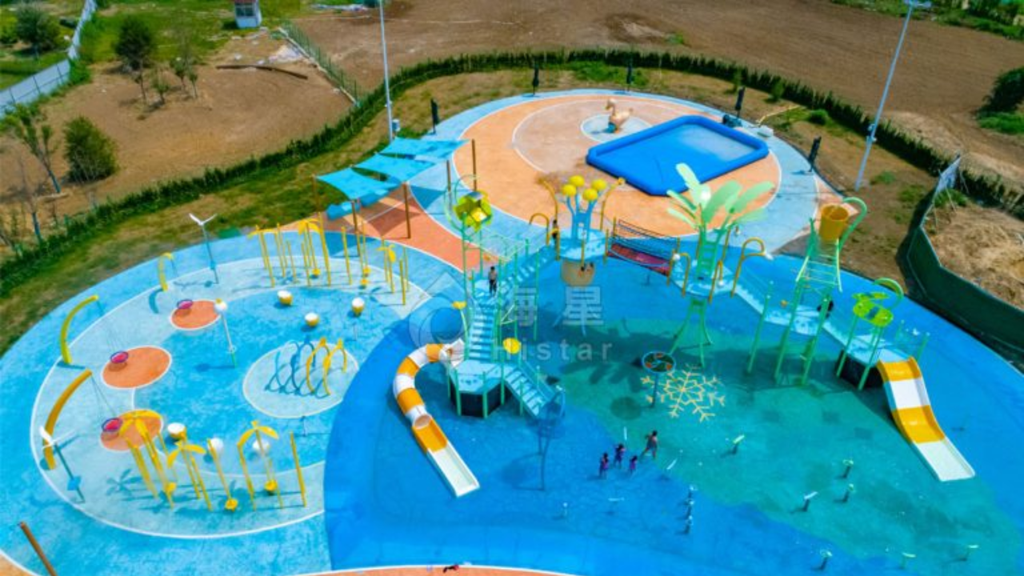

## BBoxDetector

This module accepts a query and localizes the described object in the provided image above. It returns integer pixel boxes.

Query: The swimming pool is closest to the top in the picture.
[592,112,767,194]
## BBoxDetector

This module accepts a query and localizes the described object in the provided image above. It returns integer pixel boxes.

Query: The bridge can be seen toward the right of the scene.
[602,221,682,287]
